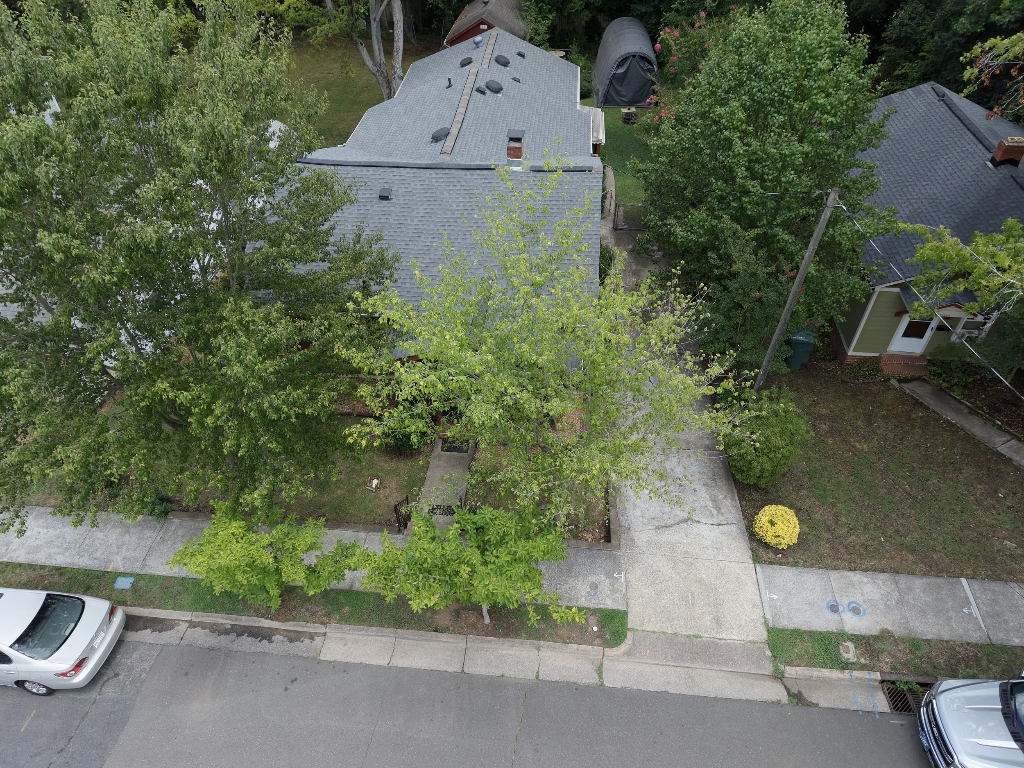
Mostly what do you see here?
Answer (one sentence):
The scene is dominated by trees.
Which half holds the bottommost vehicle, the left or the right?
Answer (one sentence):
The bottommost vehicle sits on the right side.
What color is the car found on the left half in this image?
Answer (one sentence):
The color of the car found on the left half is white.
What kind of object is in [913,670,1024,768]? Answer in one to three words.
vehicle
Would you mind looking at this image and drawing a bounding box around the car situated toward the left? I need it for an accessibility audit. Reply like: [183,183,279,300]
[0,587,128,701]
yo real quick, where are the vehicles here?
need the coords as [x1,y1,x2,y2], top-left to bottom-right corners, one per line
[0,587,128,701]
[913,670,1024,768]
